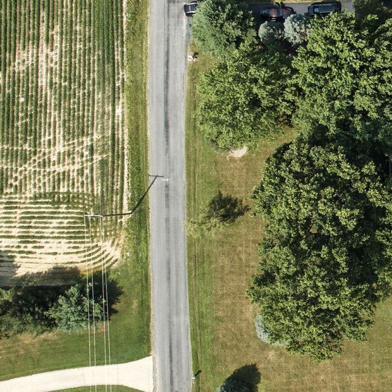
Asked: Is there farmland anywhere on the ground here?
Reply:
Yes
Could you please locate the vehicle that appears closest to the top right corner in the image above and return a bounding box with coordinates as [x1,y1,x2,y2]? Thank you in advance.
[309,1,343,17]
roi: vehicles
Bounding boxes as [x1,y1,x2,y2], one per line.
[261,6,296,21]
[180,1,200,17]
[309,1,343,17]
